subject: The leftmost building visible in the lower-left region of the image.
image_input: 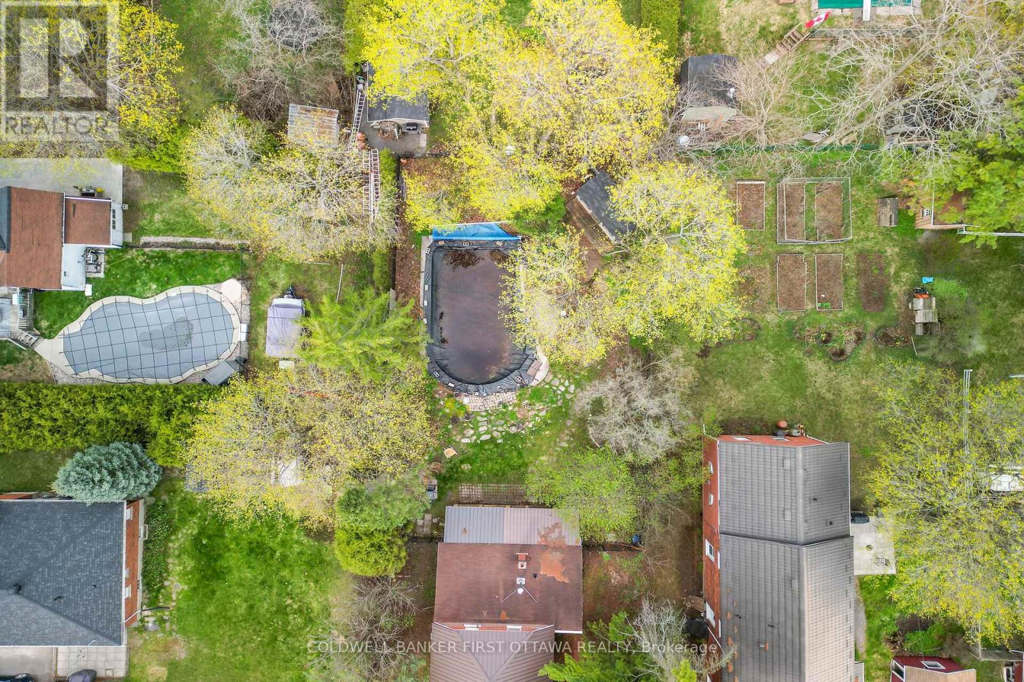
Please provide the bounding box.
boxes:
[0,490,153,648]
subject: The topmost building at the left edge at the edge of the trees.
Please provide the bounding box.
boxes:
[0,187,127,291]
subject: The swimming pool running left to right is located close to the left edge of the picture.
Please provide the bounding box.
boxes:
[36,285,240,385]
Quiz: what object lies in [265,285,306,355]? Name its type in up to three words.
trailer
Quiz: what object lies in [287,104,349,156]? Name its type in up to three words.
shed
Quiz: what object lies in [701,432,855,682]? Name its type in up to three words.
house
